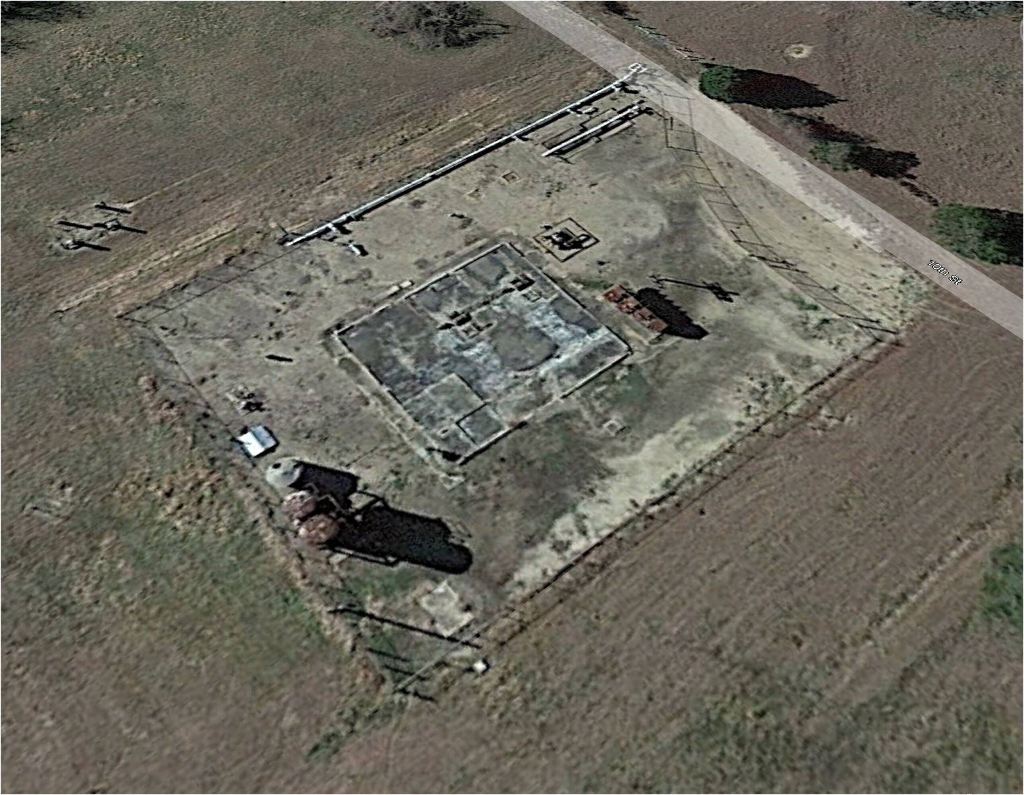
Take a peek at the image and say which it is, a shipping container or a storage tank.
storage tank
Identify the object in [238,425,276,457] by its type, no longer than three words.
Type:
shed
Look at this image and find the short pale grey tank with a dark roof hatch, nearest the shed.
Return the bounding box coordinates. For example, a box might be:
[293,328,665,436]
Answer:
[264,455,301,493]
